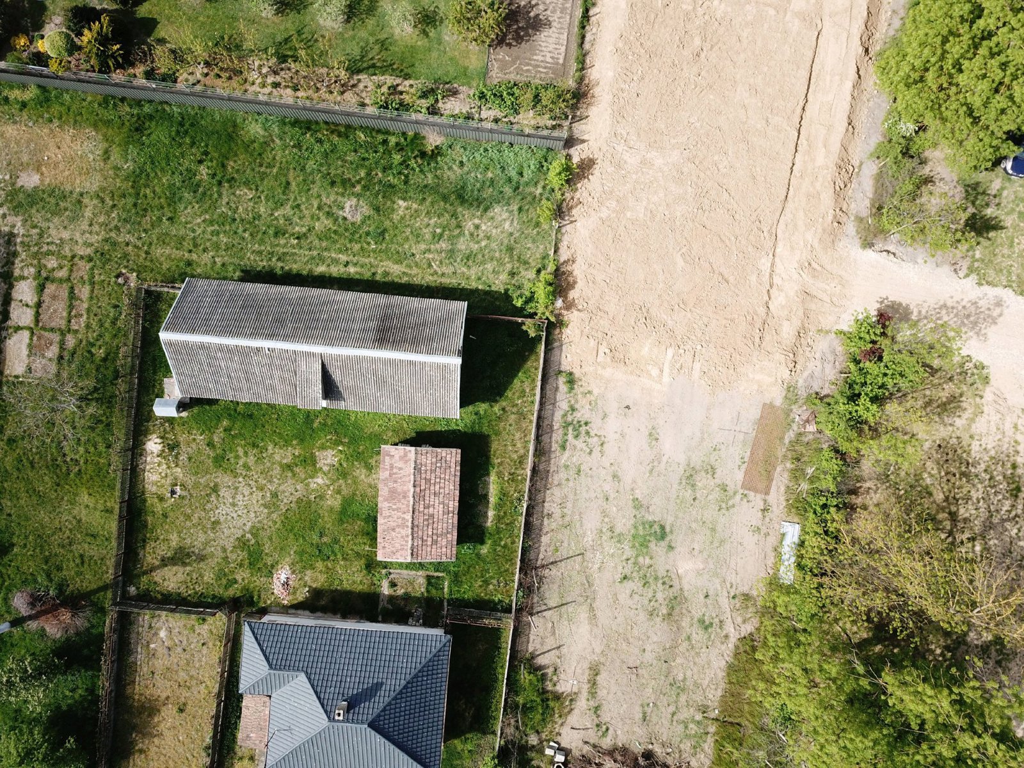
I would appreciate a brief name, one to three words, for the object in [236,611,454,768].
house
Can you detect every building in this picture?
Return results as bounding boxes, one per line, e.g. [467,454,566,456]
[236,611,454,768]
[365,444,461,564]
[156,276,469,420]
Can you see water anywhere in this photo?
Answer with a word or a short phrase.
No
